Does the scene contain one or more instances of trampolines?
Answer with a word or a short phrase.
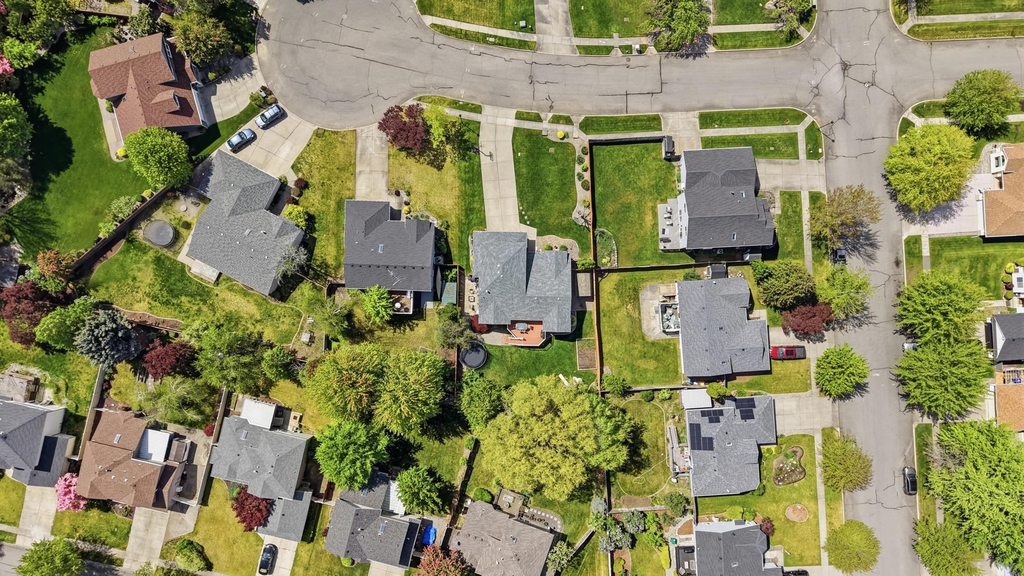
Yes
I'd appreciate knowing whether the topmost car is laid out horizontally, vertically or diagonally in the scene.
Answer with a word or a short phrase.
diagonally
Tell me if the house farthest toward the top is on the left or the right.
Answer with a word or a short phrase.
left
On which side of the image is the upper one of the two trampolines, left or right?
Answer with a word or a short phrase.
left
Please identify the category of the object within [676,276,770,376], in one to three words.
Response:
house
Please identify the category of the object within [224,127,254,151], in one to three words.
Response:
car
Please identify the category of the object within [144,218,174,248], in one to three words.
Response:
trampoline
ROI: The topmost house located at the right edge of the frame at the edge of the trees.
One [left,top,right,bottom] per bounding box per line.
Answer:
[974,145,1024,238]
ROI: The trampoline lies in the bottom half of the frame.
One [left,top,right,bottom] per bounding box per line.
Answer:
[459,341,488,370]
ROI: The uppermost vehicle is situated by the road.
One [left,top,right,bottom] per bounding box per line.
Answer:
[252,102,284,129]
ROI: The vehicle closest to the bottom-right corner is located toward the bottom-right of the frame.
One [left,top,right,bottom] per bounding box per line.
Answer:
[902,466,920,497]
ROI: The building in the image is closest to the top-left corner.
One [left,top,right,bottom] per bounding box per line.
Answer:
[87,33,205,143]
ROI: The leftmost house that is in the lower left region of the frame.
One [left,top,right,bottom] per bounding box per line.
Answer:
[0,391,75,488]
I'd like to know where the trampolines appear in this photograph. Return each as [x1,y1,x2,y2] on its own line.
[144,218,174,248]
[459,341,488,370]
